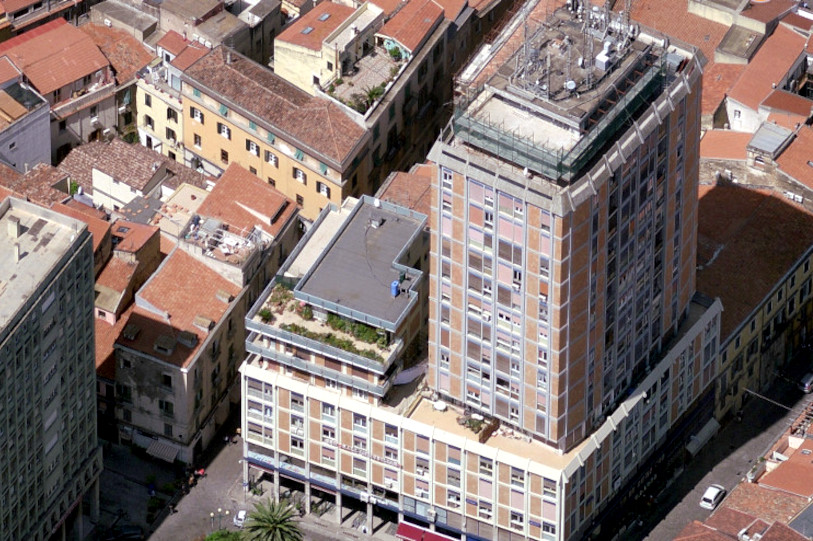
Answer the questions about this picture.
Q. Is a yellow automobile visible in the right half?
No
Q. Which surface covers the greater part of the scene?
buildings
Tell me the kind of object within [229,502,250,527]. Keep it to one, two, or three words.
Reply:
car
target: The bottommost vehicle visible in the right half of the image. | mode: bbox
[697,480,729,509]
